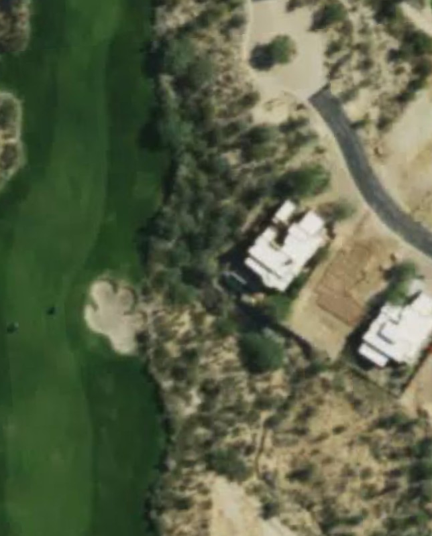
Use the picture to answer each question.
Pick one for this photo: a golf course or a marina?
golf course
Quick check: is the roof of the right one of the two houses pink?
No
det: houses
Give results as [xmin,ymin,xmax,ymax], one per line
[359,289,432,367]
[244,200,330,294]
